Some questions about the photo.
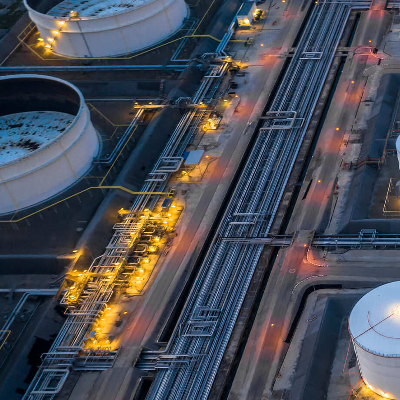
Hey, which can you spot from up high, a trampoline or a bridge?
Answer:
bridge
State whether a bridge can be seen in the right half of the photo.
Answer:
Yes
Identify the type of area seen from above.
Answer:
industrial area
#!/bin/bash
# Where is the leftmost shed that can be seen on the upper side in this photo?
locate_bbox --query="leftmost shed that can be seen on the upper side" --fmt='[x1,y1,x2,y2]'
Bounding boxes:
[235,9,257,26]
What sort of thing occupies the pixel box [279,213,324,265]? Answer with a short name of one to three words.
bridge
